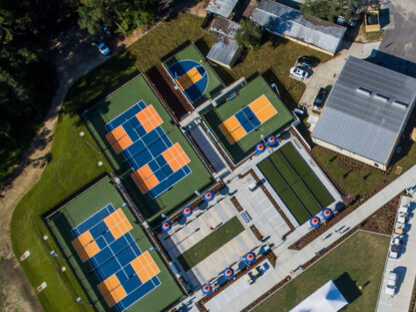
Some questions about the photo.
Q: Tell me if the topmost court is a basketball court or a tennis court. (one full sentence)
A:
I'd say the topmost court is a basketball court.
